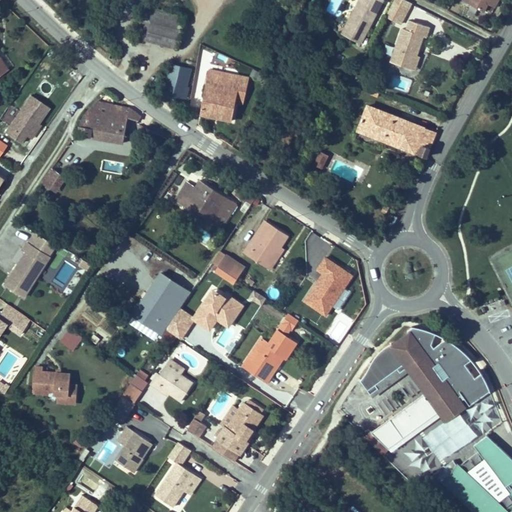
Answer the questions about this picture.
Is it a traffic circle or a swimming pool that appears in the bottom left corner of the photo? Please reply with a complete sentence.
Looking in the bottom left corner of the photo, you will find a swimming pool.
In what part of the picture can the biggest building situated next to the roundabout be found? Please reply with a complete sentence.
The biggest building situated next to the roundabout sits in the bottom right section of the image.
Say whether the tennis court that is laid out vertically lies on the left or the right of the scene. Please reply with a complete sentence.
The tennis court that is laid out vertically sits on the right side.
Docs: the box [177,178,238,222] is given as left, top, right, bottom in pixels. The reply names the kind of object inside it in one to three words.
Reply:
house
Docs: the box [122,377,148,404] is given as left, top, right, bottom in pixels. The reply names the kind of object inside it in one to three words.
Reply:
shed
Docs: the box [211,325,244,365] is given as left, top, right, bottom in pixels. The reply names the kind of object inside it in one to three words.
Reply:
swimming pool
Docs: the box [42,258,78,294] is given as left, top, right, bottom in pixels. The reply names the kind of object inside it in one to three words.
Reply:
swimming pool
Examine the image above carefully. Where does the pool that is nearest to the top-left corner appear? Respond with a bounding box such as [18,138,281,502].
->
[100,159,124,174]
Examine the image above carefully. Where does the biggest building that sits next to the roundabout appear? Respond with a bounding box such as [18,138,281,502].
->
[360,330,490,424]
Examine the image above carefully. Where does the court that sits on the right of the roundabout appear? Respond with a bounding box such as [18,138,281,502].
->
[488,244,512,298]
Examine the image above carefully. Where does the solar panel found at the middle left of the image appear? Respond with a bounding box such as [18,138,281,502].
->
[20,262,44,291]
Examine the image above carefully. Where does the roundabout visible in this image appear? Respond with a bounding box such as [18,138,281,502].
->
[369,232,449,311]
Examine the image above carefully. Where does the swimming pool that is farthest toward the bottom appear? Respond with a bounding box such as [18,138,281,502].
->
[93,436,120,468]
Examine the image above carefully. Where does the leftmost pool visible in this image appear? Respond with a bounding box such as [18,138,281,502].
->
[0,346,27,383]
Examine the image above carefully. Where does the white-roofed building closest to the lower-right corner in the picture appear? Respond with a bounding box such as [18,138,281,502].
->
[469,460,509,502]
